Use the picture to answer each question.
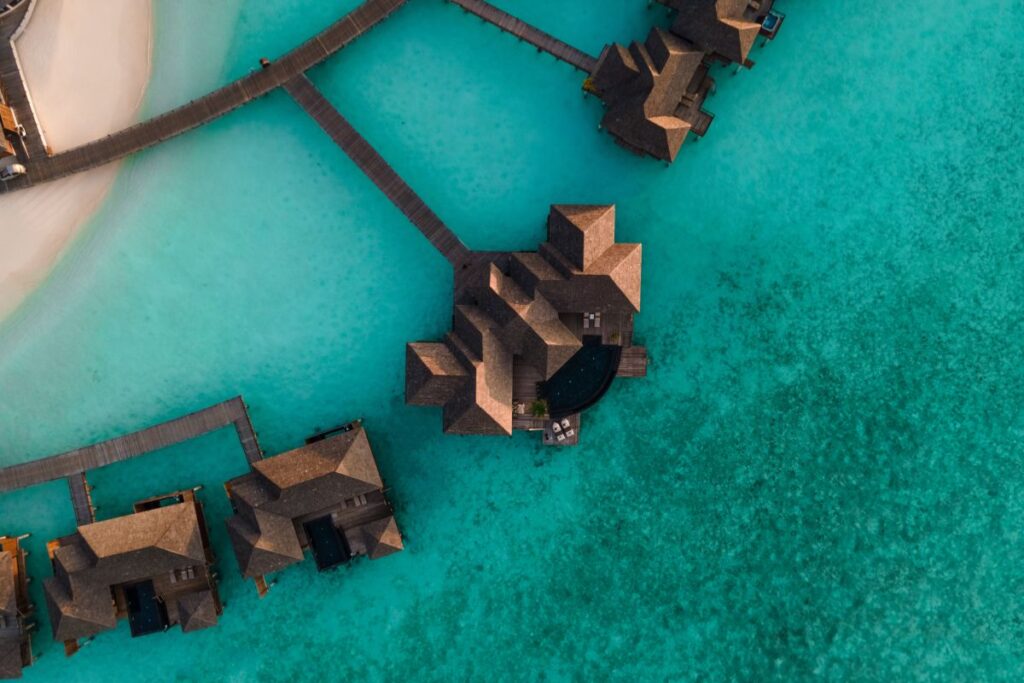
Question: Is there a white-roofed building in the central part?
No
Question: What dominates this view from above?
water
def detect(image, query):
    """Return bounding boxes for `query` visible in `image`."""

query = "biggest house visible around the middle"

[406,205,647,444]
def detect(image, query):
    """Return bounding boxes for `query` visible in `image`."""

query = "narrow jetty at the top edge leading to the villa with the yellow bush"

[445,0,598,73]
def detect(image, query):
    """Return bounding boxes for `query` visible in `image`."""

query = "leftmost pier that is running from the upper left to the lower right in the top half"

[282,69,471,265]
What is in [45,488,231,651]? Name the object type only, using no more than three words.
house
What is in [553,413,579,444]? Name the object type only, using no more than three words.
pier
